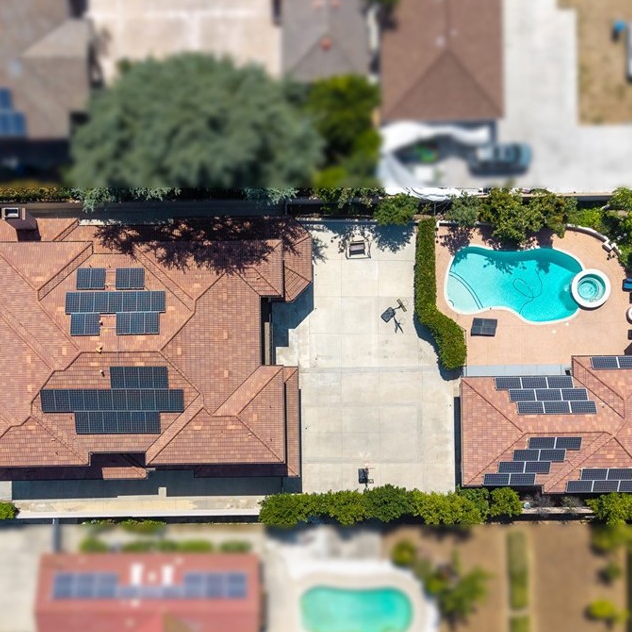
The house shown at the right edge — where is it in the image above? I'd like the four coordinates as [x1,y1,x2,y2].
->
[459,355,632,494]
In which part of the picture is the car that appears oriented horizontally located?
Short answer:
top right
